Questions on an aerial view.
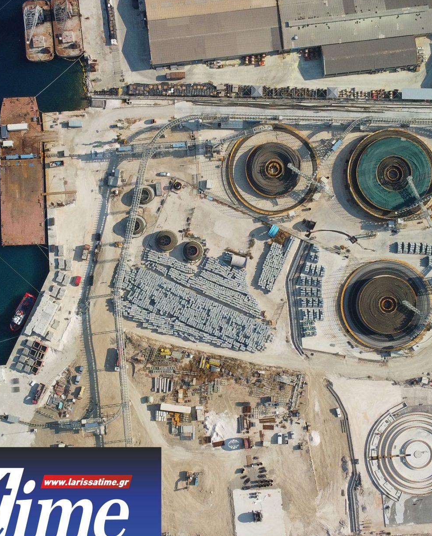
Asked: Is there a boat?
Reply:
Yes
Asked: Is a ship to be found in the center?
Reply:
No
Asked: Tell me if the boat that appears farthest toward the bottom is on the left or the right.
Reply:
left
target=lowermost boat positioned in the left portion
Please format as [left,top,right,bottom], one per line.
[11,293,37,329]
